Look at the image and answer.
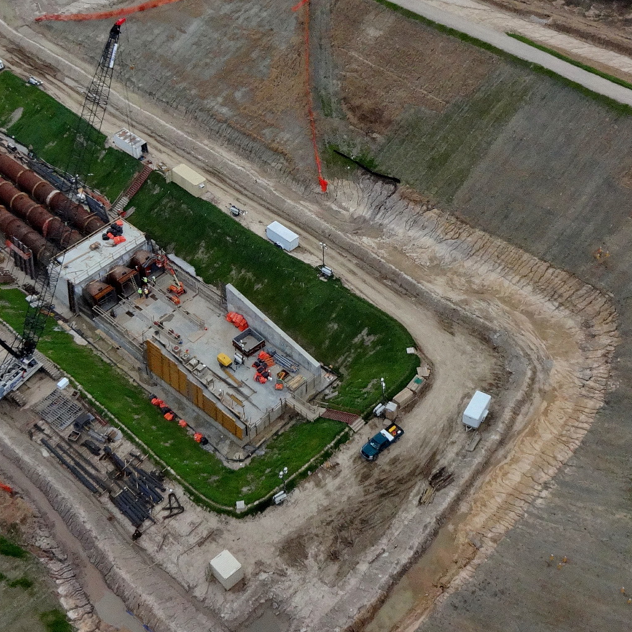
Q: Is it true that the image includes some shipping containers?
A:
Yes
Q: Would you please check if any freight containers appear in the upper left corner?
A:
Yes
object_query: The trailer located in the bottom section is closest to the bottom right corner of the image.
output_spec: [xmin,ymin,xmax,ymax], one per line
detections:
[463,392,491,436]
